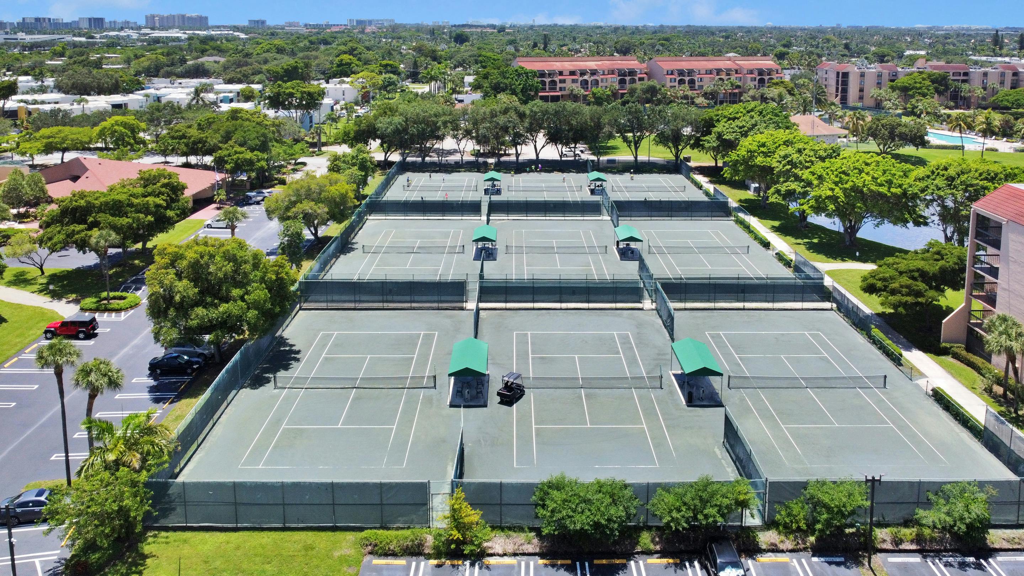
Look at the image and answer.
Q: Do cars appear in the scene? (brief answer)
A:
Yes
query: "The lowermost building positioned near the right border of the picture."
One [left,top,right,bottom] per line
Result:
[919,179,1024,383]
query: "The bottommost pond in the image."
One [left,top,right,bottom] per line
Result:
[781,189,1007,258]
